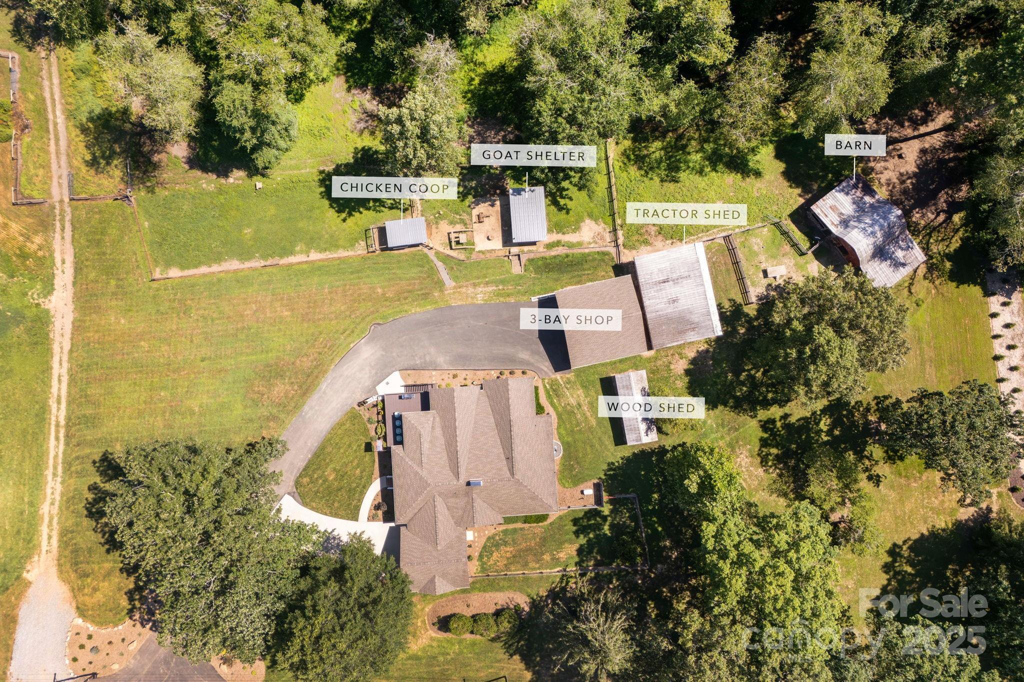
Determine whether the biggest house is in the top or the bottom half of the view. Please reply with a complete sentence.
Seen from above, the biggest house lies in the bottom half of the view.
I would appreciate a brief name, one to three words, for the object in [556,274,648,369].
building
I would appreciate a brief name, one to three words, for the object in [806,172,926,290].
barn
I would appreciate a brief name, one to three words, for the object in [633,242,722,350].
shed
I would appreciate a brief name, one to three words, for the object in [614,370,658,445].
shed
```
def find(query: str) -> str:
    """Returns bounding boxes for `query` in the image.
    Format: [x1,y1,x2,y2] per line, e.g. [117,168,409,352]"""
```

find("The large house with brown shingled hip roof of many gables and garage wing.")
[391,377,559,595]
